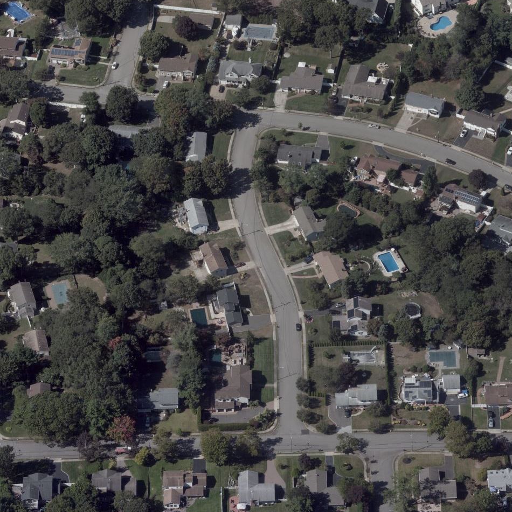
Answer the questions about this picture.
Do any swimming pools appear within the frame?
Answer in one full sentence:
Yes, looking at the shot, I can spot a swimming pool.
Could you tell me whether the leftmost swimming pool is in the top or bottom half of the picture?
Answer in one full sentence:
Seen from above, the leftmost swimming pool lies in the top half of the view.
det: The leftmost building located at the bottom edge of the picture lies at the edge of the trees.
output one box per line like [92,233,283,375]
[22,471,55,507]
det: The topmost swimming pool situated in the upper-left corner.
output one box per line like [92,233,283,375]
[3,1,32,22]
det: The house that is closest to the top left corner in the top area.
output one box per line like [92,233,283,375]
[0,34,29,62]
